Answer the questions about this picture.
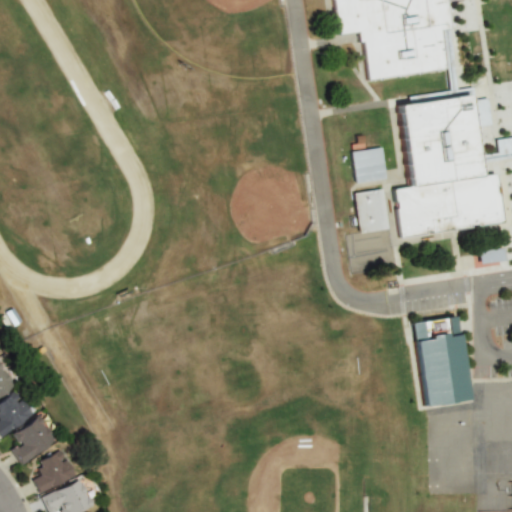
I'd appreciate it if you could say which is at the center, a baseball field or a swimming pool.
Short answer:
baseball field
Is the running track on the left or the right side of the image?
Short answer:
left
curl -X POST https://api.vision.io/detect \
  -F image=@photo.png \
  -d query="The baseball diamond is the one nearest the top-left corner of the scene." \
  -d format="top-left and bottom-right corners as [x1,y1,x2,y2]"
[132,0,294,80]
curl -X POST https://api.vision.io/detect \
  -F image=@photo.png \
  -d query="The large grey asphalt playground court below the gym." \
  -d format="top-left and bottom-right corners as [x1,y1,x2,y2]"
[427,384,512,512]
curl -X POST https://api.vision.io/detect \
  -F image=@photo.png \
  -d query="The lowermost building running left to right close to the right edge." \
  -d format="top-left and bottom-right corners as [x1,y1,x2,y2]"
[393,174,504,237]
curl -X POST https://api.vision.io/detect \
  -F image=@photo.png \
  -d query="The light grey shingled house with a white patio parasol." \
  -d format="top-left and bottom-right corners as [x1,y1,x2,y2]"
[42,478,97,512]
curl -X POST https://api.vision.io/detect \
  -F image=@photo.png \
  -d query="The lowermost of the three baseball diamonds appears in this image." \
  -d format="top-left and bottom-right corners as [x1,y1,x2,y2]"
[249,436,341,512]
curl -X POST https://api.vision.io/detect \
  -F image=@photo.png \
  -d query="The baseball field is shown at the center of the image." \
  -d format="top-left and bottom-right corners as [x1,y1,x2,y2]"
[232,167,310,242]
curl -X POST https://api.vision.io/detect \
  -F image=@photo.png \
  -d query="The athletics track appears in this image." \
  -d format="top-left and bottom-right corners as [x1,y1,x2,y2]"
[0,0,154,299]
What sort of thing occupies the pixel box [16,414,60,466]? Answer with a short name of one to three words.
house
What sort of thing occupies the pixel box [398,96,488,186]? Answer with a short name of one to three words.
building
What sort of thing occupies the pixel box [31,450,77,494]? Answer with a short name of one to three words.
house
